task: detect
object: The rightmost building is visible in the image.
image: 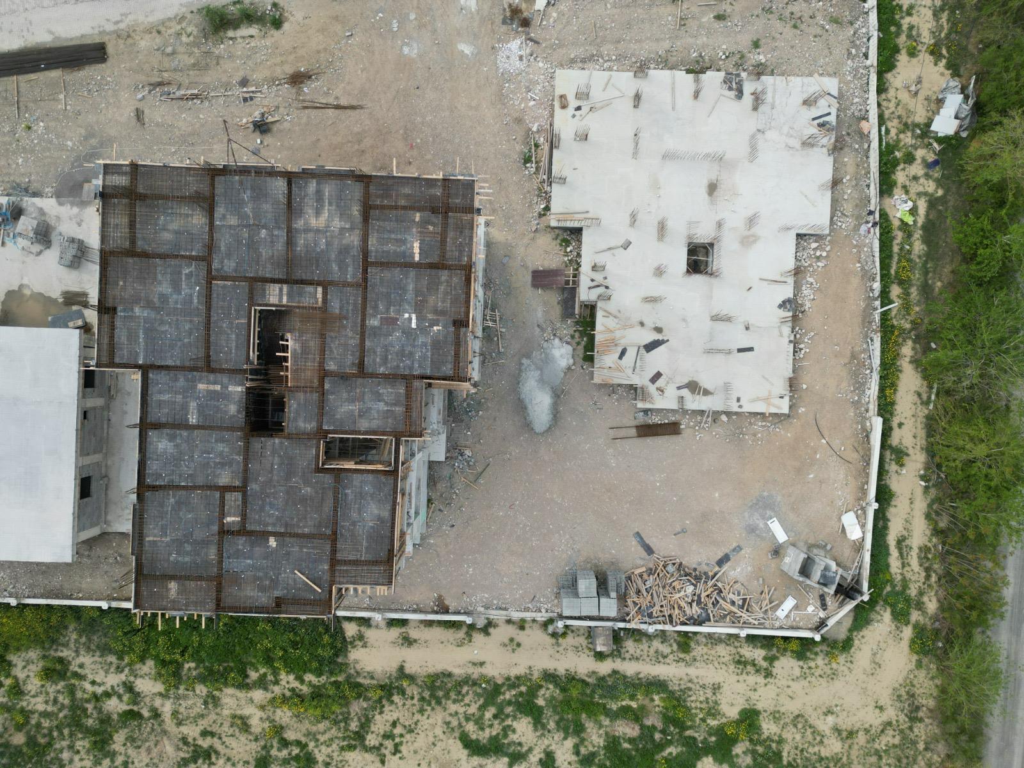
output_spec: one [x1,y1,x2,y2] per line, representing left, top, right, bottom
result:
[75,145,494,630]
